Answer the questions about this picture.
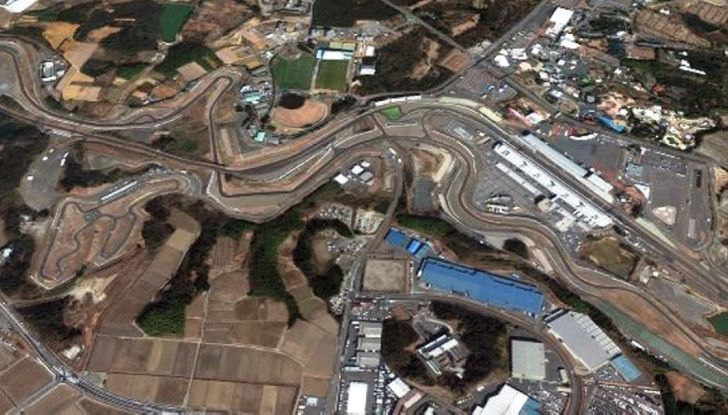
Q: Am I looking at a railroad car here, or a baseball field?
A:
baseball field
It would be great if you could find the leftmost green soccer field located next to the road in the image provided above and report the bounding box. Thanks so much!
[275,55,313,90]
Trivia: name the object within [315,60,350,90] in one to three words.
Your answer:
soccer field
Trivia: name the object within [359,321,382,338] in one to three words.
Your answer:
building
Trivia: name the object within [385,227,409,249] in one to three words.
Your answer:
building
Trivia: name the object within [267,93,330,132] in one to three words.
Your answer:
baseball field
